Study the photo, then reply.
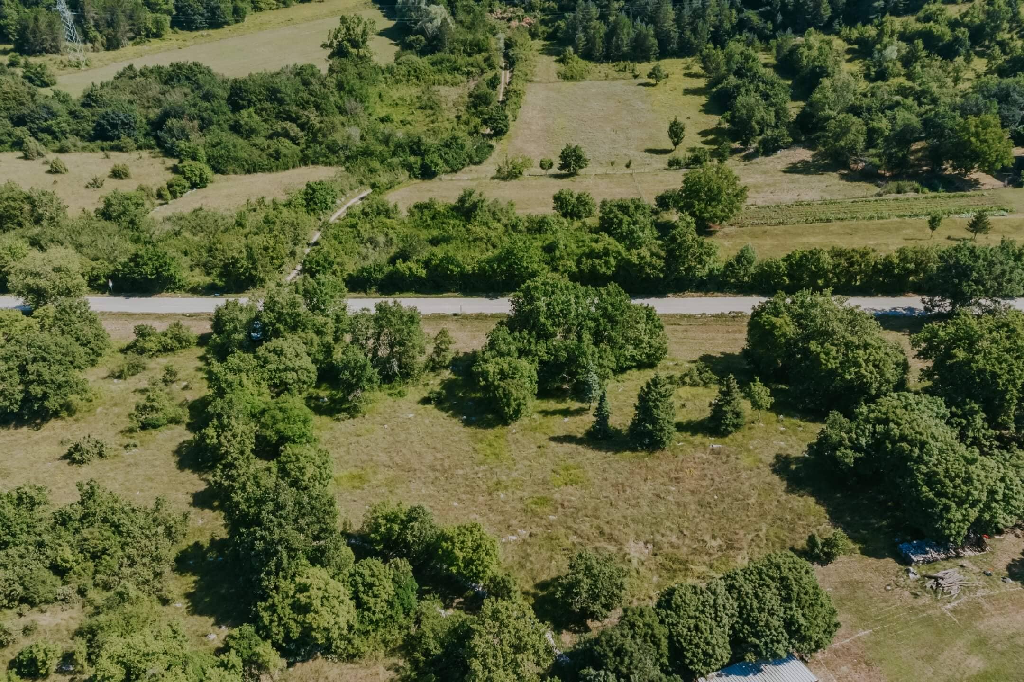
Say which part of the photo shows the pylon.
top left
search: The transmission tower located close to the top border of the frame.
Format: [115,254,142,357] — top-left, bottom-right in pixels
[40,0,84,63]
